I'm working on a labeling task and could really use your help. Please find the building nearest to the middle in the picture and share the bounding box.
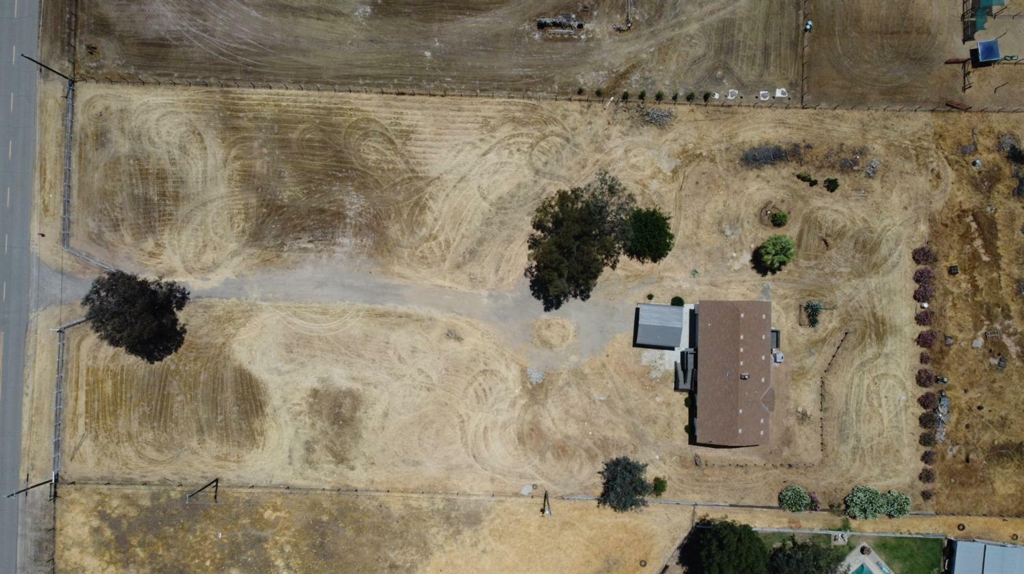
[635,304,683,347]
